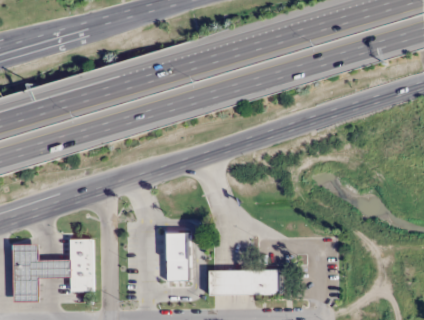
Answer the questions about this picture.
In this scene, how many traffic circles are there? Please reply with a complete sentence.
The count of traffic circles is 0.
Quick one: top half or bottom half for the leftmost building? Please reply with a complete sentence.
It is in the bottom half that the leftmost building appears.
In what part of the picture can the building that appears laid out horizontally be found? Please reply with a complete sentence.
The building that appears laid out horizontally is located in the bottom region of the scene.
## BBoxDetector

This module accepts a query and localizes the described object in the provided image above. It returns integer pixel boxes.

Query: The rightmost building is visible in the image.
[208,270,281,296]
